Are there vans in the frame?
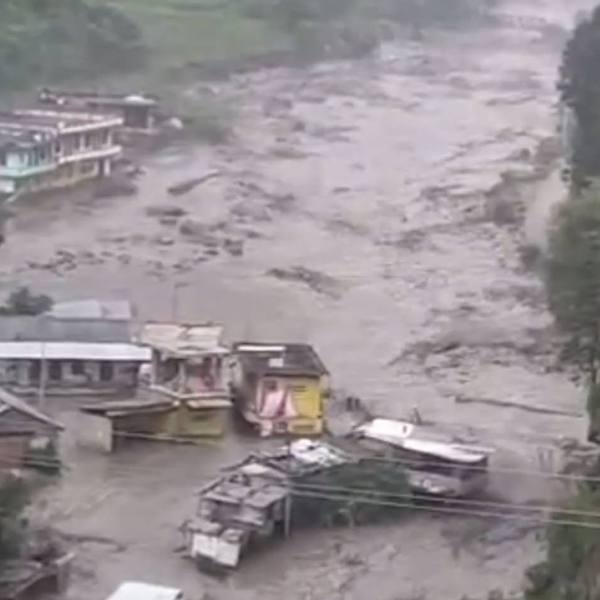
No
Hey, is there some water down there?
Yes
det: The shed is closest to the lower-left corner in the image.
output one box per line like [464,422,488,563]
[0,543,74,600]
